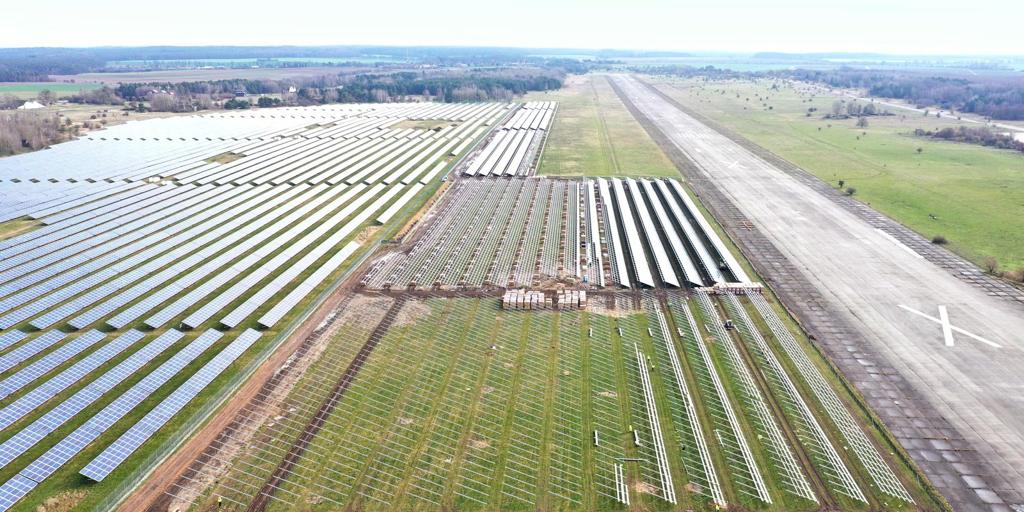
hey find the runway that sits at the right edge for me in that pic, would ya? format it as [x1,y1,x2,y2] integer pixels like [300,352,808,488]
[615,79,1024,497]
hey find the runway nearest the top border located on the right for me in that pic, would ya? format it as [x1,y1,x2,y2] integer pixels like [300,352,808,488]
[612,77,739,143]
